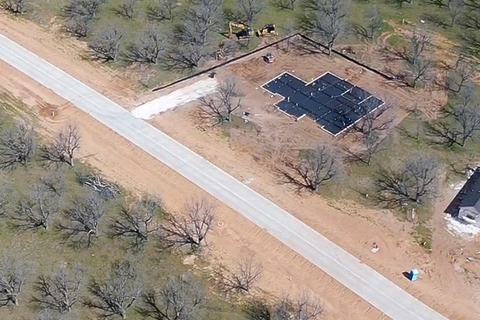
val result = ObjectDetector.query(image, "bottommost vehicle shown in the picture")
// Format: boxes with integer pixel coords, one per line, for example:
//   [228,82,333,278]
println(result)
[263,50,276,62]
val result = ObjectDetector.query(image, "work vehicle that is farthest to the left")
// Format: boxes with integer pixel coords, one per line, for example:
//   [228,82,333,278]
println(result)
[223,21,255,39]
